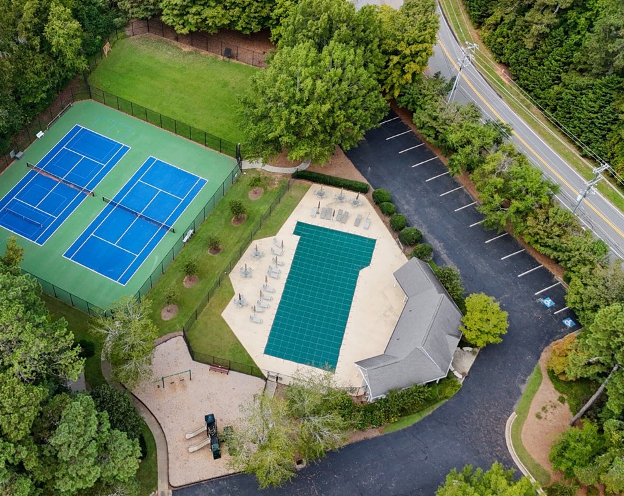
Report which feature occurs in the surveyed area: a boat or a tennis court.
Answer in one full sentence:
Visible in the photo is a tennis court.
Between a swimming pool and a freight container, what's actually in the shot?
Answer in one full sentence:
It is a swimming pool that can be seen here.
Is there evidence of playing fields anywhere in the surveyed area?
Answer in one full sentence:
Yes, this view includes a playing field.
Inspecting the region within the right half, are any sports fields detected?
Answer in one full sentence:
No, no sports field appears within the right half.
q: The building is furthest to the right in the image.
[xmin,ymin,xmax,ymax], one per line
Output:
[354,258,462,403]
